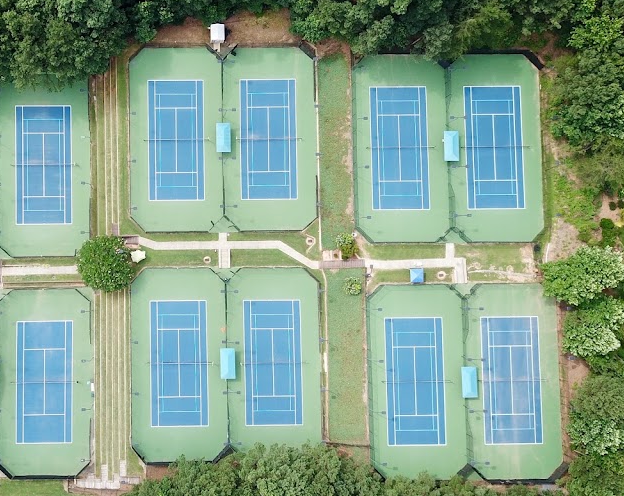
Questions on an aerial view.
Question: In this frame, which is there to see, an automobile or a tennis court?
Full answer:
It is a tennis court that can be seen here.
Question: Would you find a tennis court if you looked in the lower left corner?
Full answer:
Yes, looking in the lower left corner, one can make out a tennis court.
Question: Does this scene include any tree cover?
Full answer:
Yes, tree cover shows up in the scene.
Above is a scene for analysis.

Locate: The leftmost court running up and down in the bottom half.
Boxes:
[0,289,91,476]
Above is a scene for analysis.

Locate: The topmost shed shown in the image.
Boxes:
[210,23,225,46]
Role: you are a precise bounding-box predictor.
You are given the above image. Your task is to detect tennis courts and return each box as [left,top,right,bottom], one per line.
[0,70,90,256]
[464,284,563,477]
[353,54,465,242]
[0,289,91,476]
[129,48,240,232]
[367,285,483,479]
[447,53,545,241]
[226,267,323,461]
[222,47,318,231]
[131,267,241,464]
